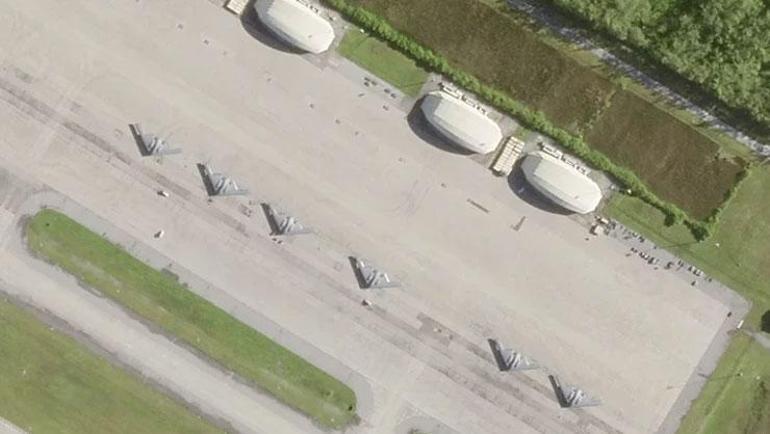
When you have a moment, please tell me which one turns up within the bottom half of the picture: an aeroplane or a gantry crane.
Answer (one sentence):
Visible within the bottom half of the picture is an aeroplane.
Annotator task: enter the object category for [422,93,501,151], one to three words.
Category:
hangar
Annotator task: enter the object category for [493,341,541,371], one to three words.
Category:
airplane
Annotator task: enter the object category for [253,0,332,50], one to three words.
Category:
hangar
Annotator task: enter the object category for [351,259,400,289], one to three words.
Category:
airplane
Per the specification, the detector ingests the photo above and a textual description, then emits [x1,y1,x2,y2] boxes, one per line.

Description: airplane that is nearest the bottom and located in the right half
[553,378,601,408]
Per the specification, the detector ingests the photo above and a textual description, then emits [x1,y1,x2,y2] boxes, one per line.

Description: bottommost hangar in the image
[522,153,601,211]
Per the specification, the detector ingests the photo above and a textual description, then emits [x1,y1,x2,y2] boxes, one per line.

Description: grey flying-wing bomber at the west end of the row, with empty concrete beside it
[134,126,182,155]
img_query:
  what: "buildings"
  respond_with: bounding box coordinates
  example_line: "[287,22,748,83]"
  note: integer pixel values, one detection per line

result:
[422,93,501,151]
[522,153,601,211]
[253,0,332,50]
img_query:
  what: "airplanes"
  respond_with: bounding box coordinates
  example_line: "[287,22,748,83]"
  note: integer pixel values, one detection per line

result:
[264,205,312,235]
[493,341,541,371]
[134,126,182,155]
[201,166,249,196]
[351,259,400,289]
[553,378,601,408]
